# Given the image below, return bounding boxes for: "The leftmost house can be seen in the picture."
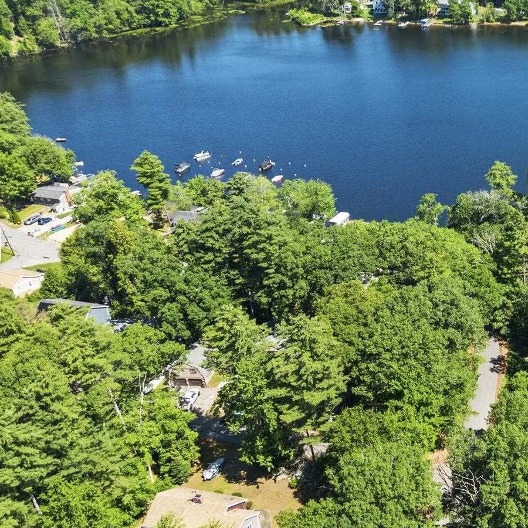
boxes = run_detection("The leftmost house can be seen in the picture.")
[0,266,44,300]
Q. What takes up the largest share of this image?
trees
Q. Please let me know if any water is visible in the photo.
Yes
